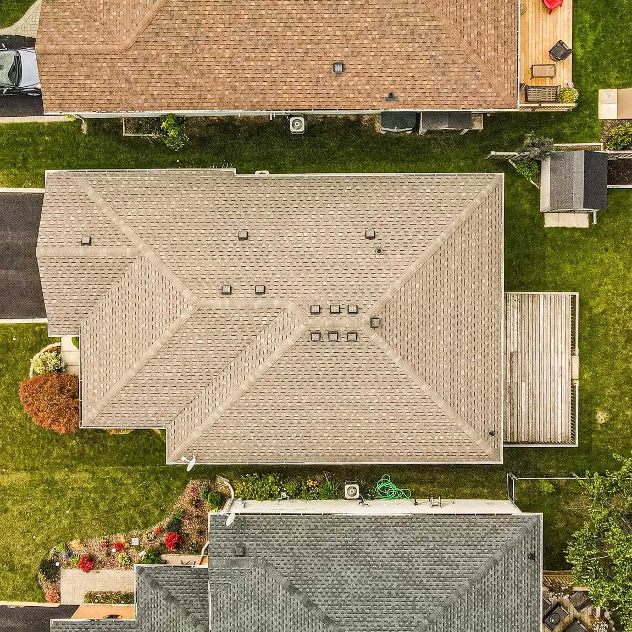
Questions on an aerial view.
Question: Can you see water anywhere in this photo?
No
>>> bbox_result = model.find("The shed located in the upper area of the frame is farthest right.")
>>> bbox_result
[541,150,608,224]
